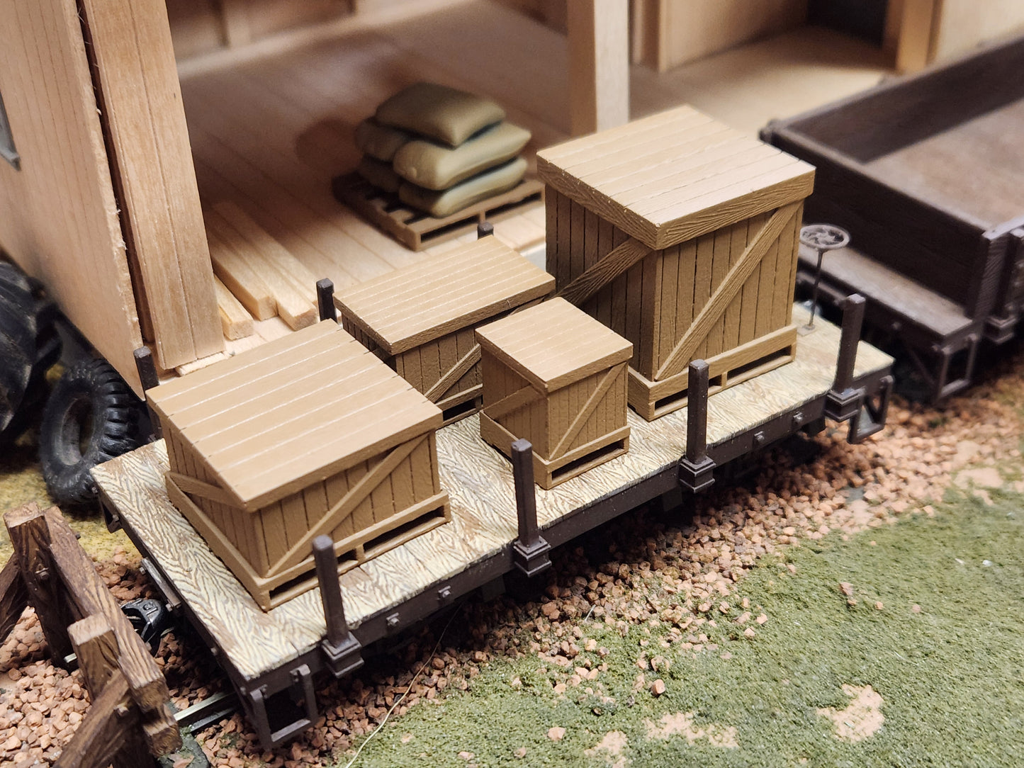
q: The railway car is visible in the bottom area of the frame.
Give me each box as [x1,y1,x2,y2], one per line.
[91,224,897,753]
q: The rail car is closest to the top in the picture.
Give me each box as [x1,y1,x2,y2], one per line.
[753,26,1024,398]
